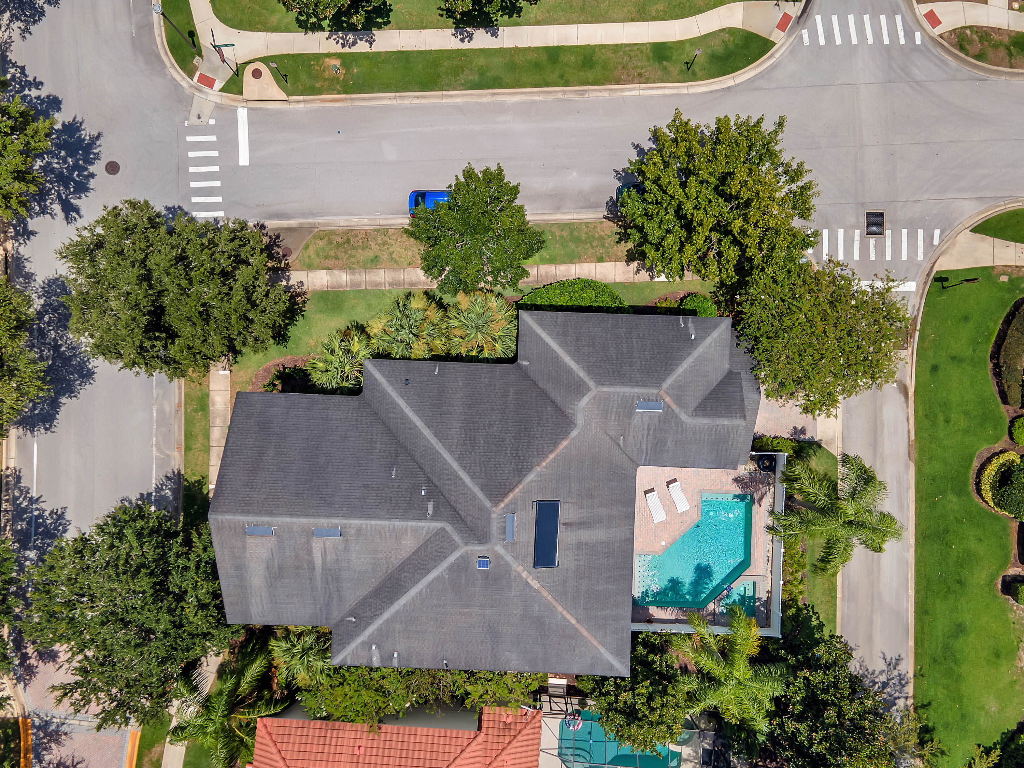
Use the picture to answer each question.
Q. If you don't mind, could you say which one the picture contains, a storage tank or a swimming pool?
swimming pool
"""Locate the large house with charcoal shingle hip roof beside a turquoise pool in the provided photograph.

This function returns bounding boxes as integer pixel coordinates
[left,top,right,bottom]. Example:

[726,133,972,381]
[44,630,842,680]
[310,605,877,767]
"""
[207,308,763,676]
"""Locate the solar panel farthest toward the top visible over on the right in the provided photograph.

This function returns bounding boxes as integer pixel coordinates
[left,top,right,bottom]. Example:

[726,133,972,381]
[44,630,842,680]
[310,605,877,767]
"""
[636,398,666,414]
